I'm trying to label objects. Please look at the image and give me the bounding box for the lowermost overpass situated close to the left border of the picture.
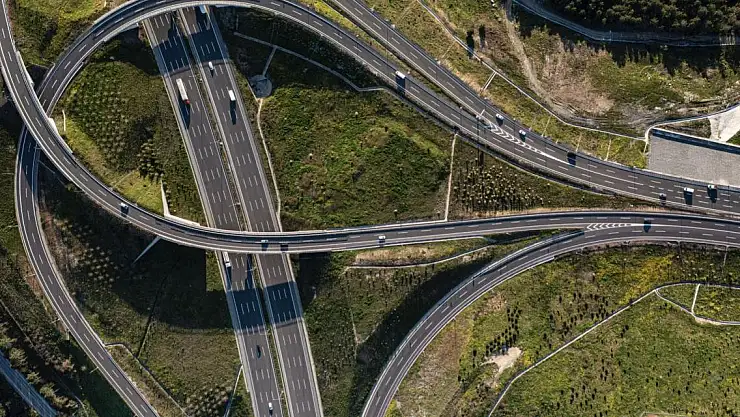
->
[13,85,64,145]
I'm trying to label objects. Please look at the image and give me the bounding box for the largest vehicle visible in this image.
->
[176,76,189,103]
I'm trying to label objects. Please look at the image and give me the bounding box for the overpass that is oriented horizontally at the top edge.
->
[134,0,230,28]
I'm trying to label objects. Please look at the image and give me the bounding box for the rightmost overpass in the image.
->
[184,221,325,259]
